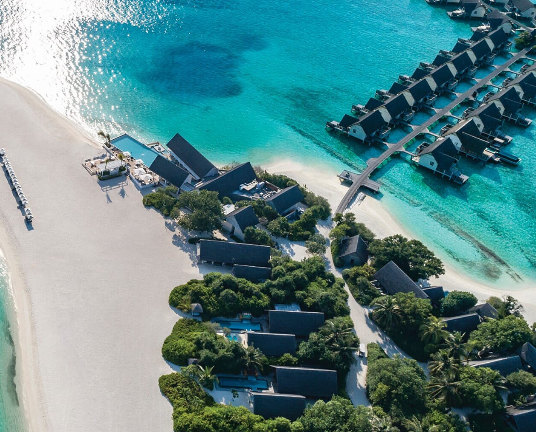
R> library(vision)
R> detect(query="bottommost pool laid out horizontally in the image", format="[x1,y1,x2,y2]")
[218,377,269,390]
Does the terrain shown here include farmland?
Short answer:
No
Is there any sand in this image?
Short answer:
Yes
